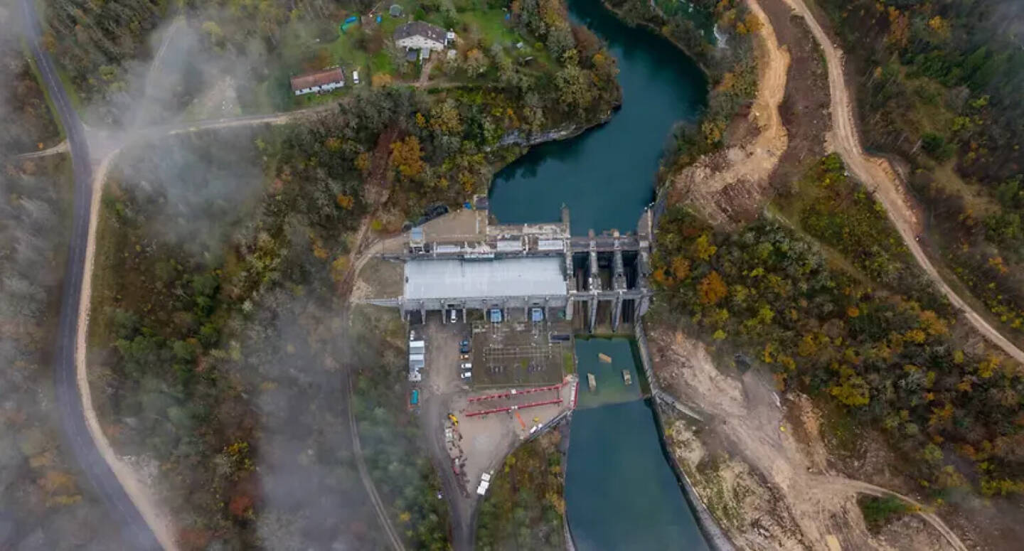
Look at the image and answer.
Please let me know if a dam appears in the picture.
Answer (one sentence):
Yes, I can see a dam in this picture.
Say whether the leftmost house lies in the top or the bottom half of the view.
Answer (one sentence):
It is in the top half that the leftmost house appears.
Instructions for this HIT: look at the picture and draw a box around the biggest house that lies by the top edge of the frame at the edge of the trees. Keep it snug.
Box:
[394,20,447,62]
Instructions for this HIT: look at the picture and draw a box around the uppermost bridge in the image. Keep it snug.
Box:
[573,228,639,251]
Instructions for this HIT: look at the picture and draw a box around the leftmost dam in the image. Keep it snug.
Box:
[403,202,571,257]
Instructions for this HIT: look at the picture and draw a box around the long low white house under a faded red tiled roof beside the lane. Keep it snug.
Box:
[291,69,344,96]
